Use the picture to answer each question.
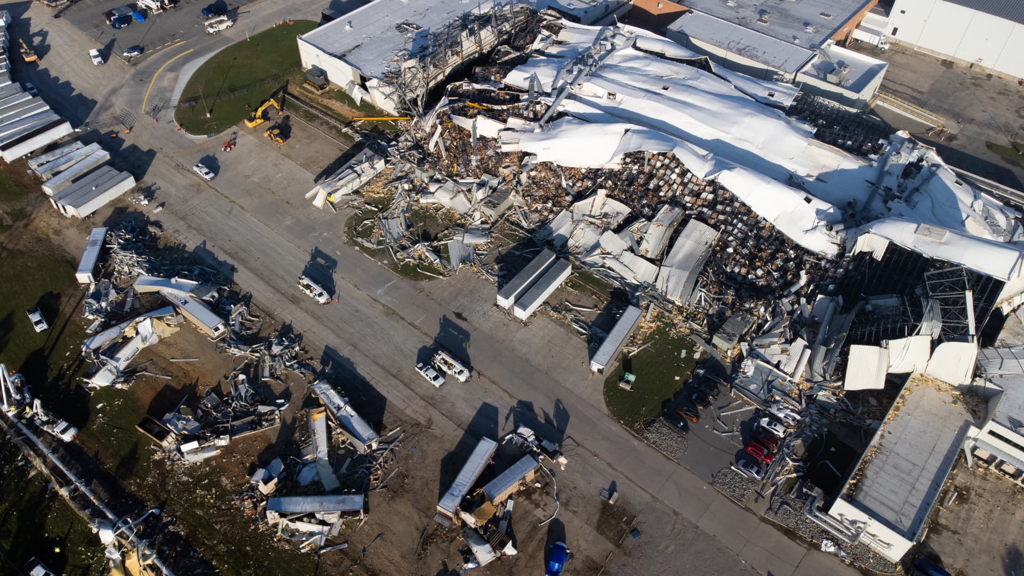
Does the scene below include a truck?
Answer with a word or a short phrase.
Yes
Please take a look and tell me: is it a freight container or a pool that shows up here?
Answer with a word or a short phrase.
freight container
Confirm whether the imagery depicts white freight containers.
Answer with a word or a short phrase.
No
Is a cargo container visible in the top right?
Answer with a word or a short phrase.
No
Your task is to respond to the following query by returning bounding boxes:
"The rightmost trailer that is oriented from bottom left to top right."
[591,305,642,375]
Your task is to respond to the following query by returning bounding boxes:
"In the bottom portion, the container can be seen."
[135,415,175,447]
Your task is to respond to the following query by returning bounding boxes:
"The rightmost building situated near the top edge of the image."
[883,0,1024,76]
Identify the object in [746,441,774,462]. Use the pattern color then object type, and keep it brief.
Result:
red car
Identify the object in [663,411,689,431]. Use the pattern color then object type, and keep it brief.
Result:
black car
